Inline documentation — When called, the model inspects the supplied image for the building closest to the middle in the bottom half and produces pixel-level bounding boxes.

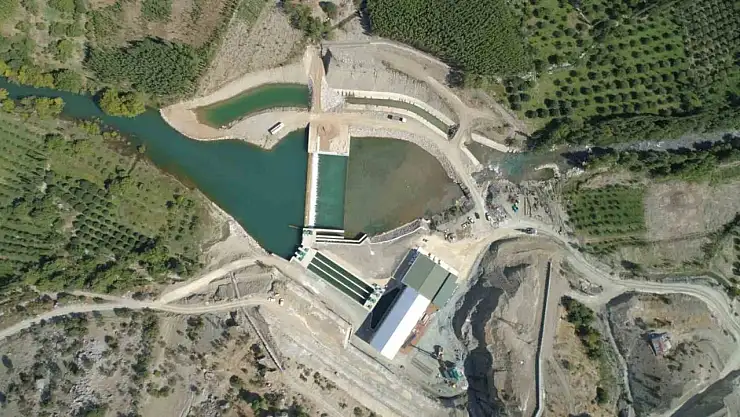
[401,252,452,301]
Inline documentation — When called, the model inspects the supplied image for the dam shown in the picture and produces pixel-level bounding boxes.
[305,155,320,228]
